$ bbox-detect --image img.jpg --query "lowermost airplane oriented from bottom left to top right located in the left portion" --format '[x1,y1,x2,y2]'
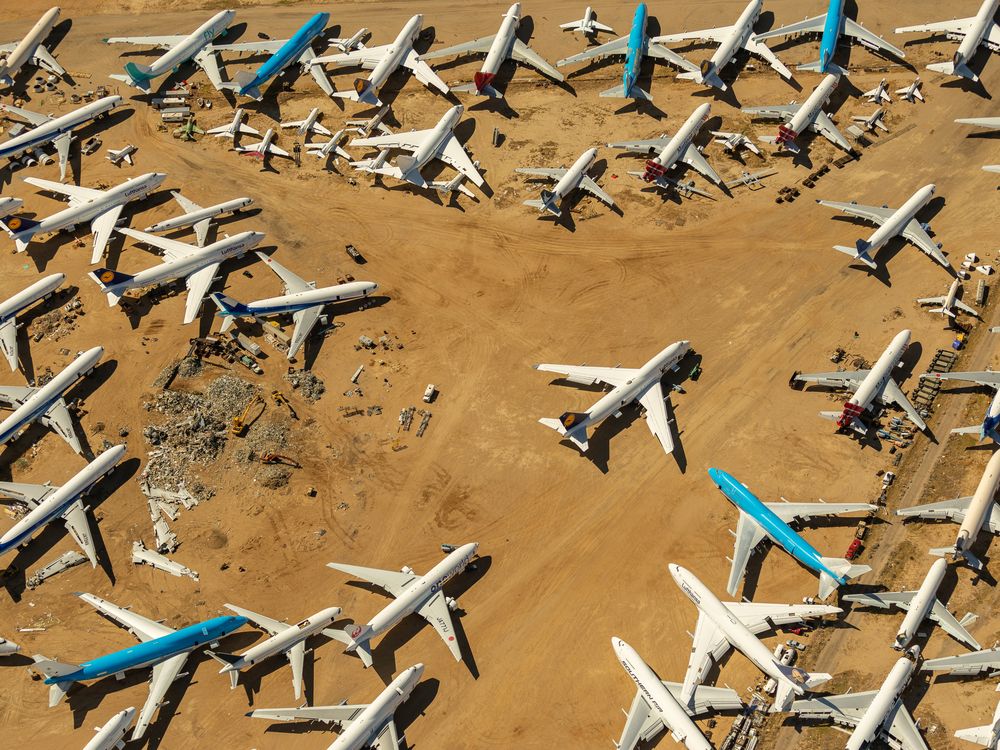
[88,709,135,750]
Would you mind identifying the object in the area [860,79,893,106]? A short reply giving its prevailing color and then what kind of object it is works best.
white airplane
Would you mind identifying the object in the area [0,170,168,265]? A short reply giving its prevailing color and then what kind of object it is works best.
white airplane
